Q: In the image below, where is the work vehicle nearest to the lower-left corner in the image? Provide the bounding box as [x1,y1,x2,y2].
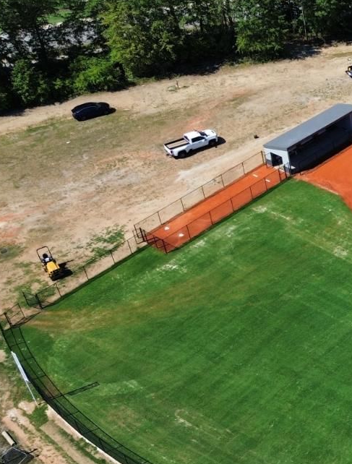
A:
[32,244,65,282]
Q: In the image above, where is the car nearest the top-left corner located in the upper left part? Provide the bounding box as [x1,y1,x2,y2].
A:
[69,98,112,115]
